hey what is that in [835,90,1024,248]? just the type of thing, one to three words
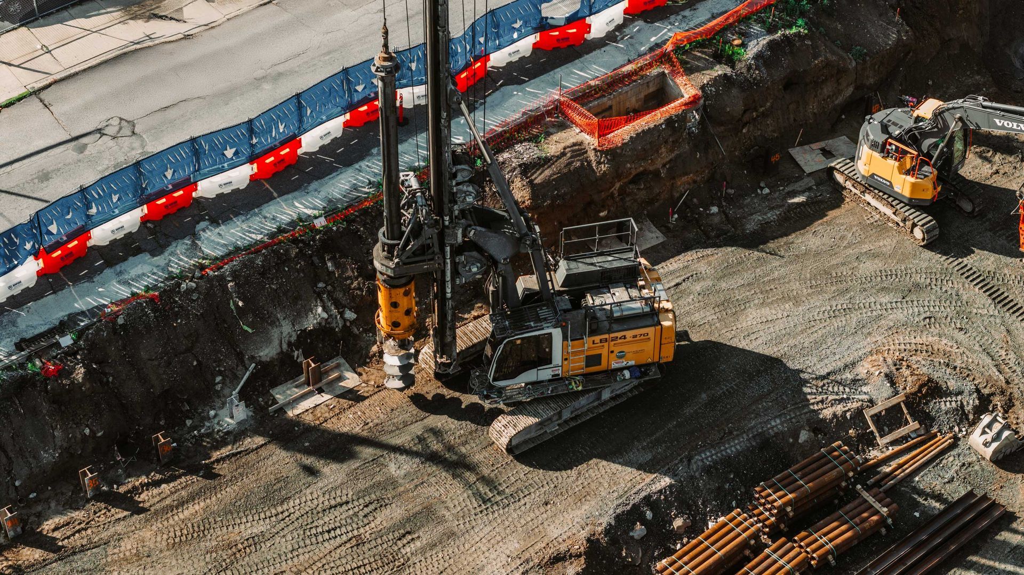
work vehicle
